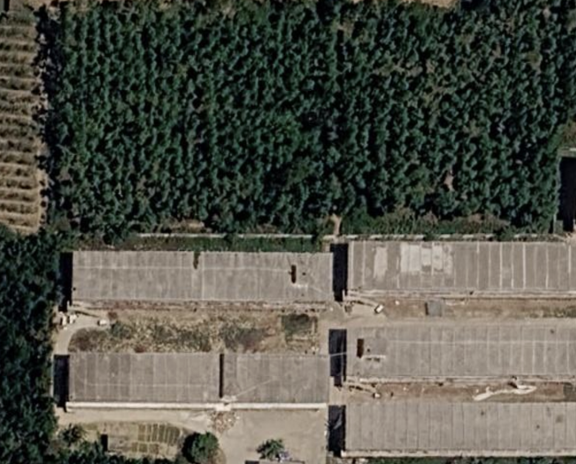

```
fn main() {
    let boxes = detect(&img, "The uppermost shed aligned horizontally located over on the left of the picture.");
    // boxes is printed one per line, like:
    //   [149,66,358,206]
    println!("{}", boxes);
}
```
[70,252,333,313]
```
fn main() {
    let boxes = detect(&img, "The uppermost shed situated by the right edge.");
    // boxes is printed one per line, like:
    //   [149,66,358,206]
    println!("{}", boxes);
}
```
[346,241,576,302]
